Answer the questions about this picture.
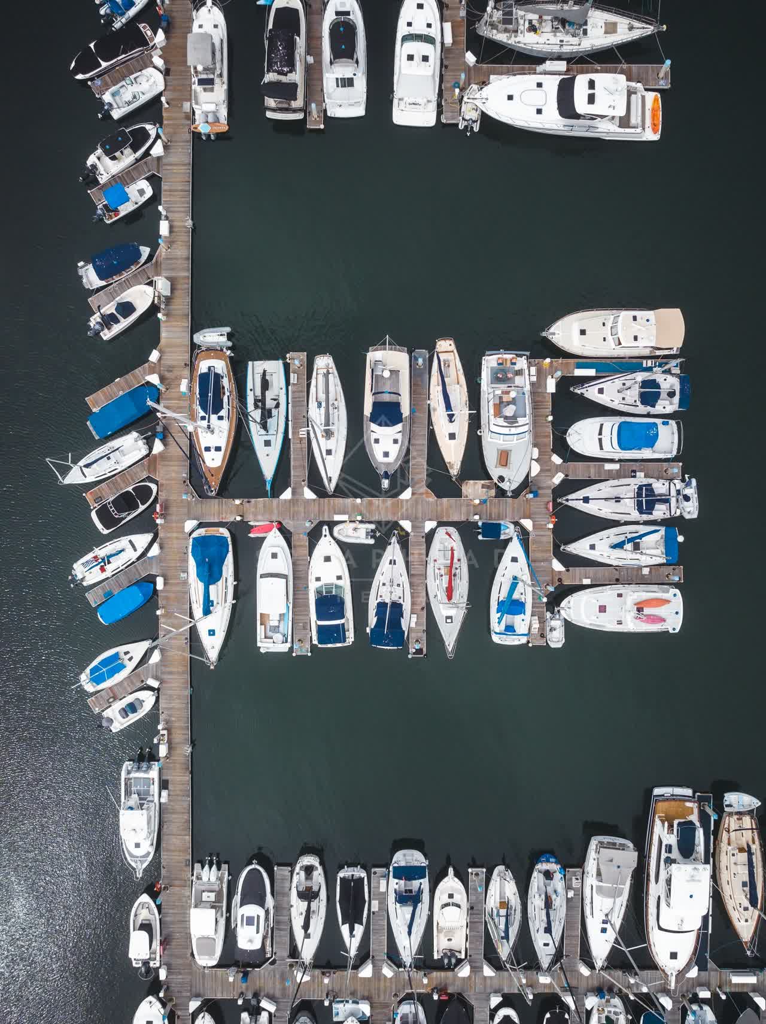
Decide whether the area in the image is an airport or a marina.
marina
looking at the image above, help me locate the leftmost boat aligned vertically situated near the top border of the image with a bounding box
[188,0,228,146]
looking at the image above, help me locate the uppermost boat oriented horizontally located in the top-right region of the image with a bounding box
[470,0,667,55]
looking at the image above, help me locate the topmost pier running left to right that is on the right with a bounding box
[465,55,671,90]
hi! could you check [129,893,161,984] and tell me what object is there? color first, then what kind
white boat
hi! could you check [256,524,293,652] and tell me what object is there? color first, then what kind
white boat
